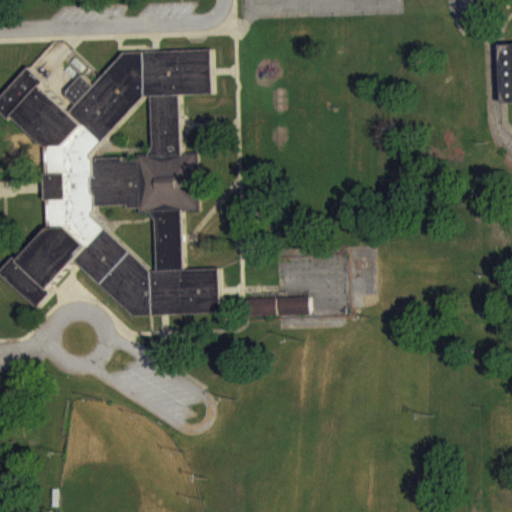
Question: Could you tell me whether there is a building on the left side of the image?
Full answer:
Yes, a building can be seen on the left side of the image.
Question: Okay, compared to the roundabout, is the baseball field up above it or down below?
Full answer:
From this view, the baseball field can be seen below the roundabout.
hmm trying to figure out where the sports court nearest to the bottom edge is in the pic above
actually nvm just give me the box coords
[281,316,346,330]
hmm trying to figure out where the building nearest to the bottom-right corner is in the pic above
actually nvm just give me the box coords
[278,296,310,316]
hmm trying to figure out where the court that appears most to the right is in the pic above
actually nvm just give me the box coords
[352,248,378,308]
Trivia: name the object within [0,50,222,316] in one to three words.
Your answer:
building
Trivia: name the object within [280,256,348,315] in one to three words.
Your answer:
sports court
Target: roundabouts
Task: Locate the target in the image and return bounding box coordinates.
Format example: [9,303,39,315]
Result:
[0,302,141,384]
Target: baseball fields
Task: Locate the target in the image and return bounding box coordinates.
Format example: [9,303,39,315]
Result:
[58,401,199,512]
